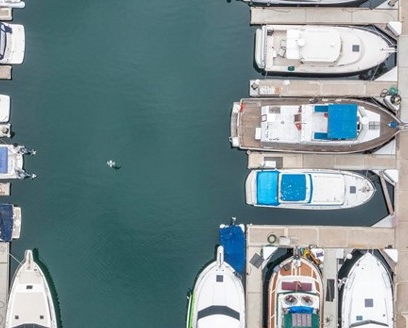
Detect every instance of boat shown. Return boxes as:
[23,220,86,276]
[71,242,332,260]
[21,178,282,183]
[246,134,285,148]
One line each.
[0,202,22,239]
[0,22,26,64]
[243,163,378,215]
[334,252,399,328]
[231,97,408,163]
[0,139,37,180]
[0,0,23,8]
[187,246,247,328]
[218,217,247,273]
[254,24,398,79]
[6,250,57,328]
[264,245,328,328]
